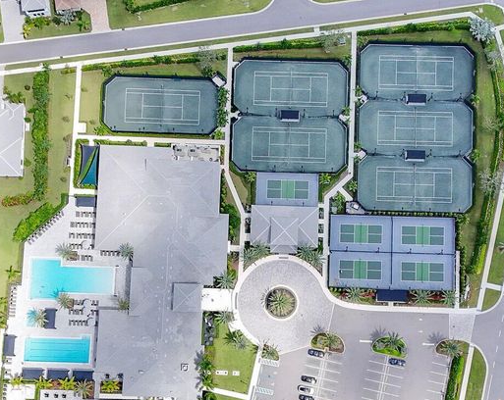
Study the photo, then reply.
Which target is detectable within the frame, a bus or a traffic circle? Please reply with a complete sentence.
Visible in the photo is a traffic circle.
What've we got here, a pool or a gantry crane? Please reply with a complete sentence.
The image shows a pool.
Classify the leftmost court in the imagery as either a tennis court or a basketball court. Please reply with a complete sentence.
The leftmost court is a tennis court.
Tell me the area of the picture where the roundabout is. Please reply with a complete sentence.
Look in the bottom portion of the view to spot the roundabout.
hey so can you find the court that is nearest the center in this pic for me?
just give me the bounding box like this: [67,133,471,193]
[256,173,318,206]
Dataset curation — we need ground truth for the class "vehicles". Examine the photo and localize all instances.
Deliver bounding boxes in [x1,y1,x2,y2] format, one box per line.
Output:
[300,395,315,400]
[302,376,317,385]
[309,350,324,358]
[299,386,314,395]
[390,358,406,367]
